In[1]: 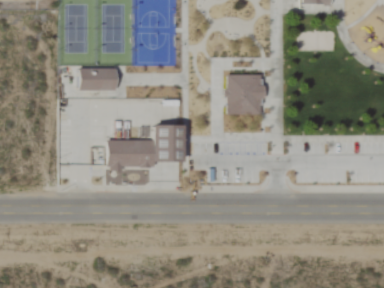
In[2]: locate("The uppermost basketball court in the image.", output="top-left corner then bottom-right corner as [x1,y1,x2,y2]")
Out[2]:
[132,0,176,30]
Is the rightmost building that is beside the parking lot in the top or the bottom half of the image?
top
